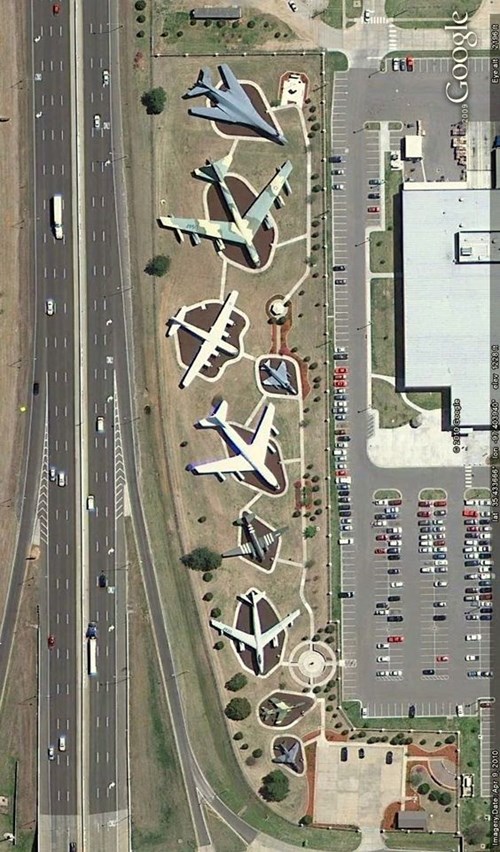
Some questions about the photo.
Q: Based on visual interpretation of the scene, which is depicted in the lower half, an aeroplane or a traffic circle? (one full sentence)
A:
You can see an aeroplane in the lower half.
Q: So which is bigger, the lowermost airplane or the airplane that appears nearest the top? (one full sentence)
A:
The airplane that appears nearest the top takes up more space than the lowermost airplane does.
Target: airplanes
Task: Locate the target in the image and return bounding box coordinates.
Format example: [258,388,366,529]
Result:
[170,288,240,387]
[161,153,292,266]
[274,739,300,772]
[260,698,305,724]
[186,65,287,141]
[220,515,289,562]
[196,400,279,488]
[211,589,299,672]
[255,359,296,393]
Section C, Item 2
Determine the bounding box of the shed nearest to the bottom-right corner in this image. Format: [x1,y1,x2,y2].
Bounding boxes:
[399,811,426,829]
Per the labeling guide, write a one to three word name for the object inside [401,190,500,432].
building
